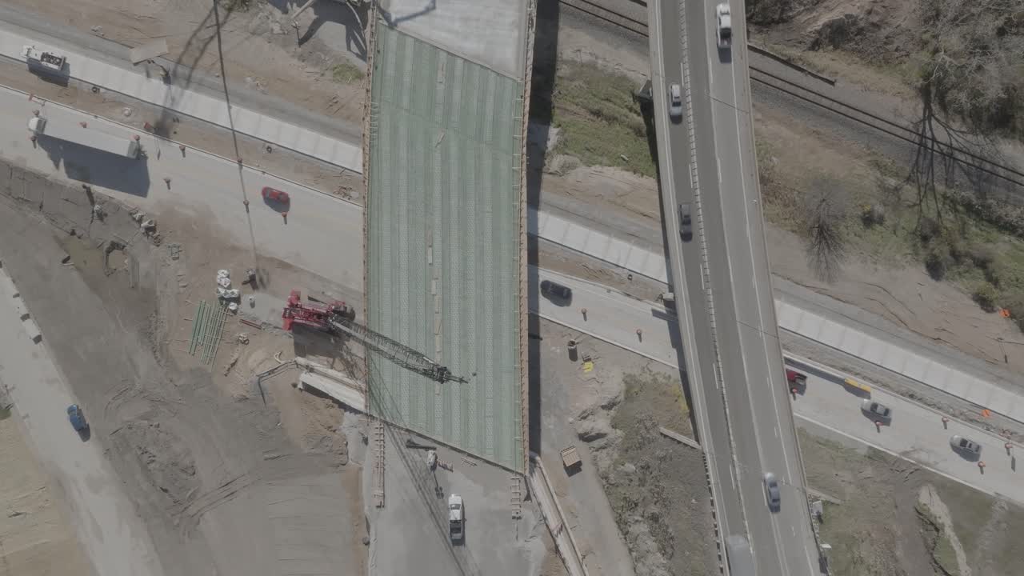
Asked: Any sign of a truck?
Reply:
Yes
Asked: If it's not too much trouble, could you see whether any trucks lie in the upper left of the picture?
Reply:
Yes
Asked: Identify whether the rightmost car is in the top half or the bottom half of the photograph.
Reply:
bottom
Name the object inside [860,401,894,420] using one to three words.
car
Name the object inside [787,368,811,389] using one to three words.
truck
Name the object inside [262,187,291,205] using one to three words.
car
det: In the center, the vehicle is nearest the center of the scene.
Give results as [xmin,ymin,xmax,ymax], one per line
[539,279,573,300]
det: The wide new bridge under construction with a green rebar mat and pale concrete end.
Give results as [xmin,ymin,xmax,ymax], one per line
[361,0,536,476]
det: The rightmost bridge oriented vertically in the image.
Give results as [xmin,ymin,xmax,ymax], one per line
[633,0,837,527]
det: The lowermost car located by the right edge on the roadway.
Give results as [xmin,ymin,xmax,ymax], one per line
[949,435,984,455]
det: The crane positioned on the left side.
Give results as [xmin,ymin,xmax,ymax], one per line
[272,283,476,383]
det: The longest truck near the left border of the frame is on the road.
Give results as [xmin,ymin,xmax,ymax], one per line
[18,113,140,162]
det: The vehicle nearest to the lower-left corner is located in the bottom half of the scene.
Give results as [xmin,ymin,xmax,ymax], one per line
[65,400,89,434]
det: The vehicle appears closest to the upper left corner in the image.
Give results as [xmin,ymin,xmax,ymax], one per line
[23,45,72,76]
